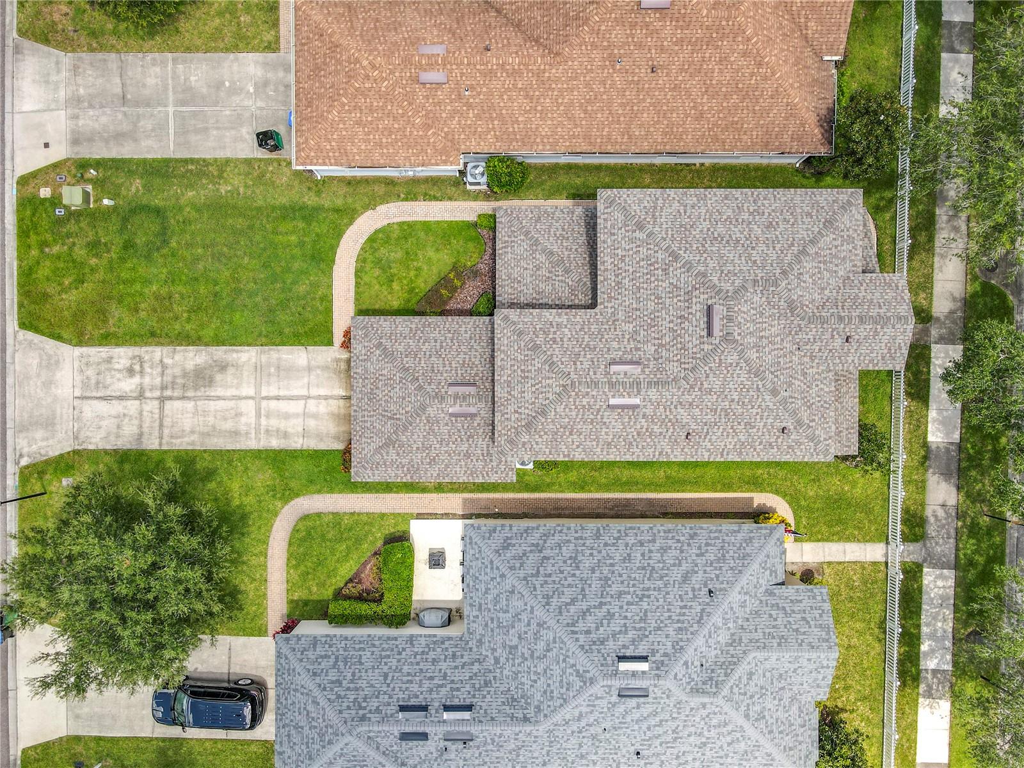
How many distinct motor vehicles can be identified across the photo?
1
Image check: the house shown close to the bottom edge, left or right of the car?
to the right of it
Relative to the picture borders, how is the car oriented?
from left to right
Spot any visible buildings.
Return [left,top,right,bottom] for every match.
[290,0,851,185]
[272,520,844,768]
[349,186,919,484]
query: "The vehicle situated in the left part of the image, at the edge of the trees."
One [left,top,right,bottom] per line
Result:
[154,674,269,733]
